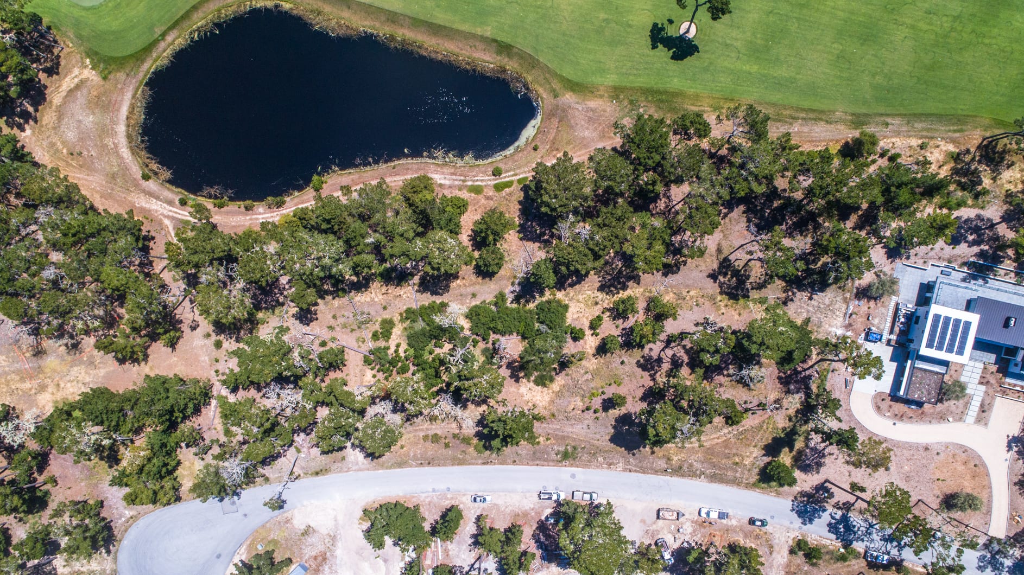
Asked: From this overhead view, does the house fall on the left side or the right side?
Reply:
right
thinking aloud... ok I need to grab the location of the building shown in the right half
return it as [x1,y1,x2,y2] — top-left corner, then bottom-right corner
[890,277,1024,410]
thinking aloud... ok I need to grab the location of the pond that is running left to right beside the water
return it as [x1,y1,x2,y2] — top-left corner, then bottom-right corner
[142,7,542,202]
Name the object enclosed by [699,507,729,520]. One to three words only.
vehicle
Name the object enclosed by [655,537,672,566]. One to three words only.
vehicle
